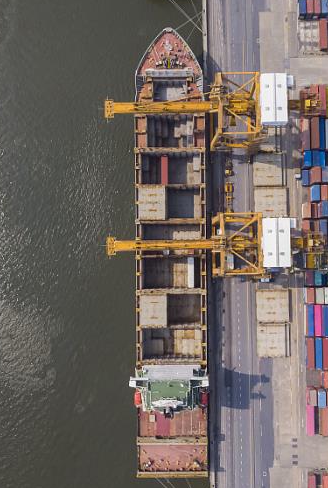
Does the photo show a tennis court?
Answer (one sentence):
No, the photo shows no tennis court.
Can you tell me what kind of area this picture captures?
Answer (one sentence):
This image shows a port.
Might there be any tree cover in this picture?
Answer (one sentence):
No, tree cover can't be seen anywhere here.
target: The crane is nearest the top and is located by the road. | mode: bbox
[102,71,321,158]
